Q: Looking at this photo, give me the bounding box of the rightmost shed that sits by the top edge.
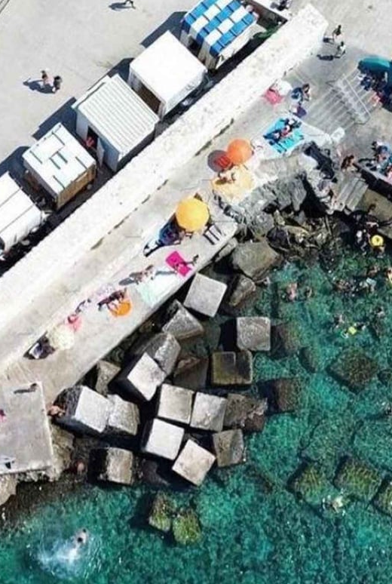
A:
[178,0,259,74]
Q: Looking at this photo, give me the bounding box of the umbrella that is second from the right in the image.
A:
[170,199,209,236]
